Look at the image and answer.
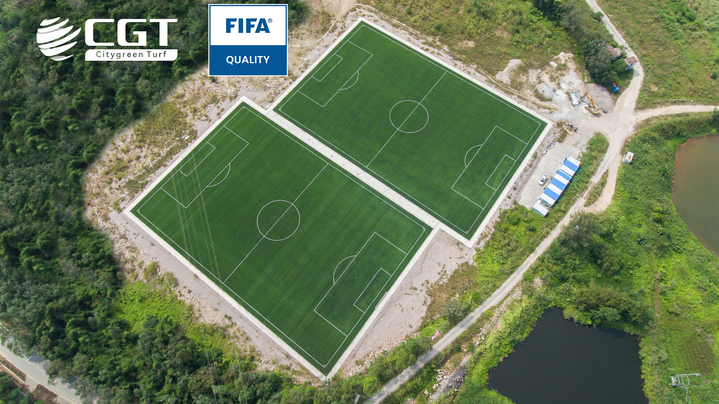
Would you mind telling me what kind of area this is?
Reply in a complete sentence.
This image shows a sports ground.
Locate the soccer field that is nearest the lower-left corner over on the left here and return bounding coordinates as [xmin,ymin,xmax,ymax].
[124,96,440,384]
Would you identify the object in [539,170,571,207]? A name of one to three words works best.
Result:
building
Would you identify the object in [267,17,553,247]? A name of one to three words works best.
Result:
soccer field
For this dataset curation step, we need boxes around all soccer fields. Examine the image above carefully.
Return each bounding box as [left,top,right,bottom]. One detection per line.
[267,17,553,247]
[124,96,440,384]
